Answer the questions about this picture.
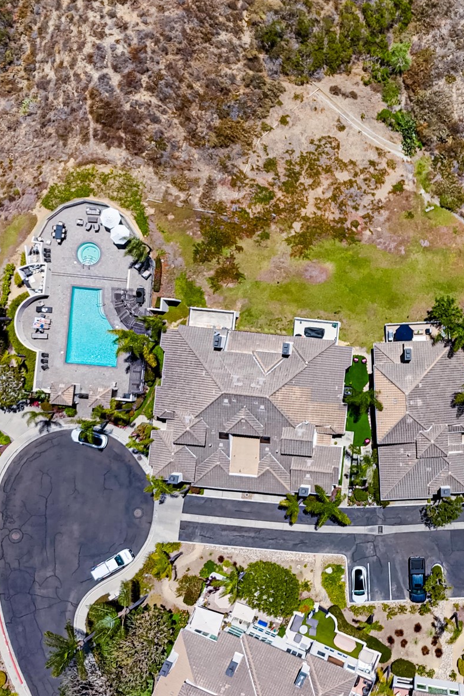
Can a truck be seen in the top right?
No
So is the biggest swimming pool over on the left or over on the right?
left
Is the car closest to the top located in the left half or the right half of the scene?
left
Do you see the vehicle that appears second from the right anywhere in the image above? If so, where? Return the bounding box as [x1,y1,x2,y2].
[349,565,368,601]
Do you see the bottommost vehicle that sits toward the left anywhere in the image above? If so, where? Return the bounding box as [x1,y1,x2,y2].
[89,550,136,580]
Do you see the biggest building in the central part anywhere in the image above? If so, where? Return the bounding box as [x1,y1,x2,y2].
[150,306,354,497]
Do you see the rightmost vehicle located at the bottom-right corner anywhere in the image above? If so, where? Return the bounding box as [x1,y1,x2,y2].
[408,556,425,602]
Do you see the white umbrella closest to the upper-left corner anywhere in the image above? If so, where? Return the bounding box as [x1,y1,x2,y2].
[101,208,121,228]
